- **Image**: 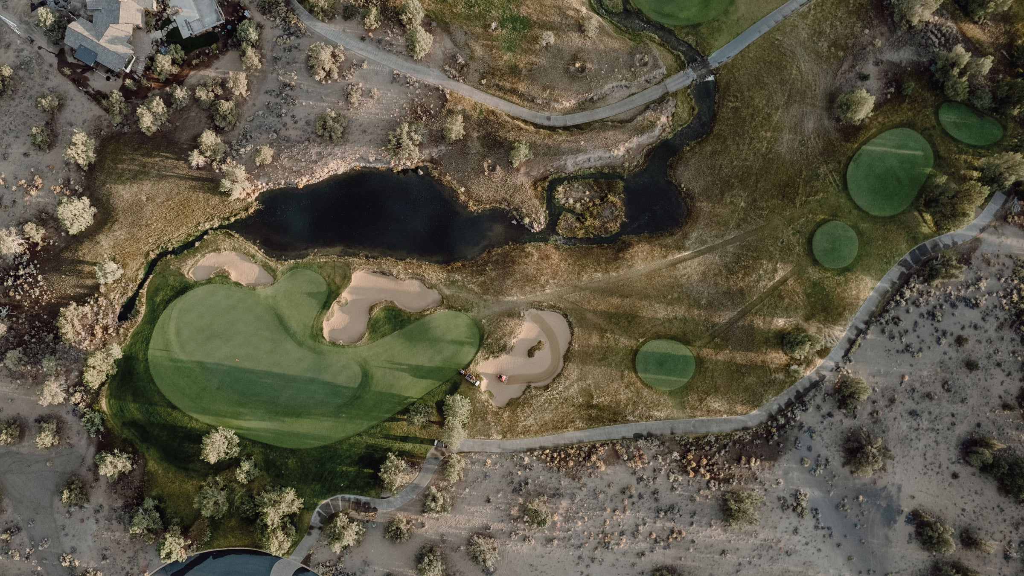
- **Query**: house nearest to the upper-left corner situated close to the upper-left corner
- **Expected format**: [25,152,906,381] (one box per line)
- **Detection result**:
[64,0,158,74]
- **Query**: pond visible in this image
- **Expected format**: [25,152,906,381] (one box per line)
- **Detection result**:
[120,81,714,319]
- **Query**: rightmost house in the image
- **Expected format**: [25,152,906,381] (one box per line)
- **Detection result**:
[170,0,226,39]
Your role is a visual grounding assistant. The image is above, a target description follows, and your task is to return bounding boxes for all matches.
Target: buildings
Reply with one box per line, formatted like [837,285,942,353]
[170,0,226,39]
[64,0,158,74]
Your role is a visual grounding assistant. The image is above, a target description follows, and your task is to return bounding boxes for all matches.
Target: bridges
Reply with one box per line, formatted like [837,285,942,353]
[685,55,717,87]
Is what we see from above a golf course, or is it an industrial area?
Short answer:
golf course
